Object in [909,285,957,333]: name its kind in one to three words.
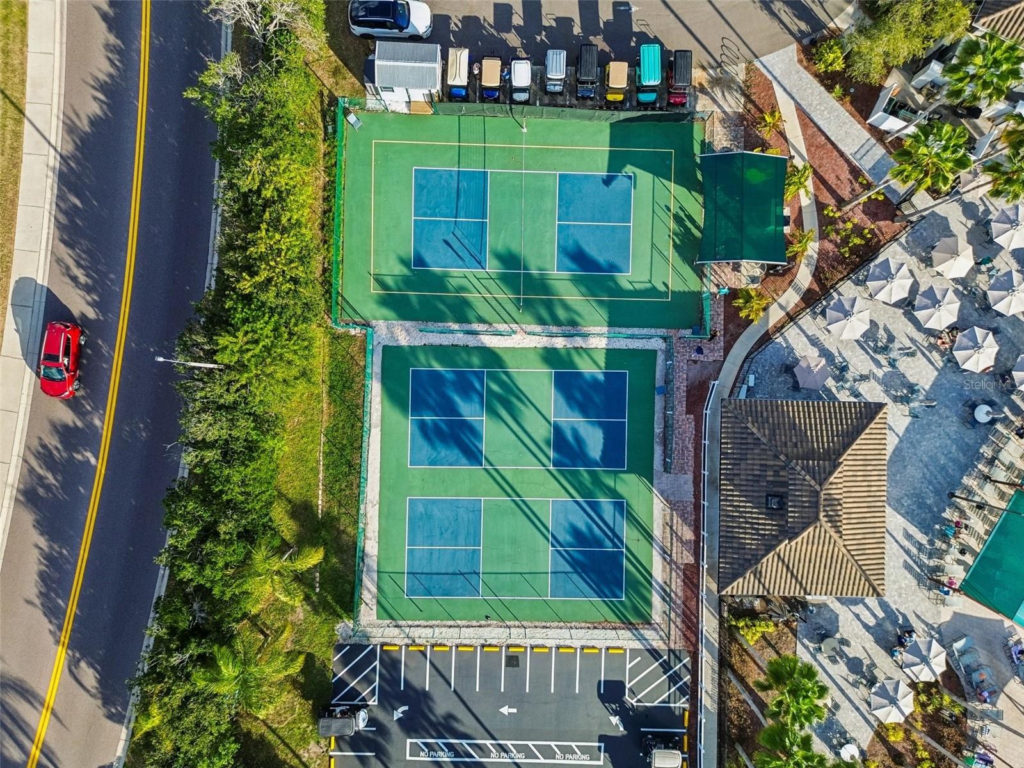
umbrella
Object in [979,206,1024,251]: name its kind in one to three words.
umbrella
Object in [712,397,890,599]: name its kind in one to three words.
building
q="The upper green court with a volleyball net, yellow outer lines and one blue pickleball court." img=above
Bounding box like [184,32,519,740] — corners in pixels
[339,108,703,327]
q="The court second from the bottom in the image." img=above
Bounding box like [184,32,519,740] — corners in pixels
[379,345,658,485]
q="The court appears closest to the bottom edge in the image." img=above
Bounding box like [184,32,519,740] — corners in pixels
[377,483,655,624]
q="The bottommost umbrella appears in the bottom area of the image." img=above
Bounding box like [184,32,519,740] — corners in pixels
[866,678,911,721]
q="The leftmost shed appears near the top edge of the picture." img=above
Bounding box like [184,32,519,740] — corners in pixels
[366,37,443,117]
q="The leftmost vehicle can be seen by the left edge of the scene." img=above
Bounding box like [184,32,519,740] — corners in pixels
[38,324,87,398]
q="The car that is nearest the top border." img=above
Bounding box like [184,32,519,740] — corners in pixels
[349,0,429,40]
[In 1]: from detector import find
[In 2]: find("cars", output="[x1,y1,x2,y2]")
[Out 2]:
[349,0,429,40]
[38,324,87,398]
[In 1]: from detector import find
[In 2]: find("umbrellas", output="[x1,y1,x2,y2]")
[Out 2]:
[791,356,829,391]
[909,285,957,333]
[820,298,864,341]
[898,636,944,680]
[940,165,982,199]
[925,235,971,279]
[945,326,995,373]
[979,206,1024,251]
[977,269,1024,314]
[864,259,911,307]
[992,348,1024,391]
[866,678,911,721]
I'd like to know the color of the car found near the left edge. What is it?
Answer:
red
